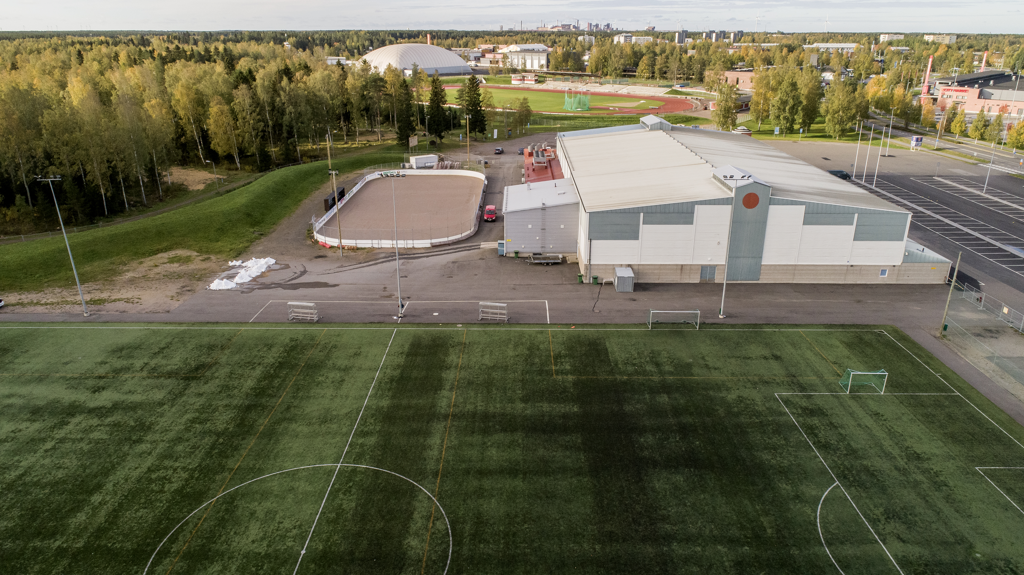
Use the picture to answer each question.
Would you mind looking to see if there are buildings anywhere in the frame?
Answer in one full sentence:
Yes, looking at the shot, I can spot a building.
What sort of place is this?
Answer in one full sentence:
What you see here is a sports ground.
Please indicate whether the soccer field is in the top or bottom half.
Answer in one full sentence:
The soccer field sits in the bottom half of the picture.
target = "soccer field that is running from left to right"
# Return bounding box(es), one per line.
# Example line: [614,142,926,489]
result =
[0,324,1024,575]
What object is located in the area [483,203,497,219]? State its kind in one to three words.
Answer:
vehicle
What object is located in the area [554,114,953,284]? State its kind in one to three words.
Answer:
building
